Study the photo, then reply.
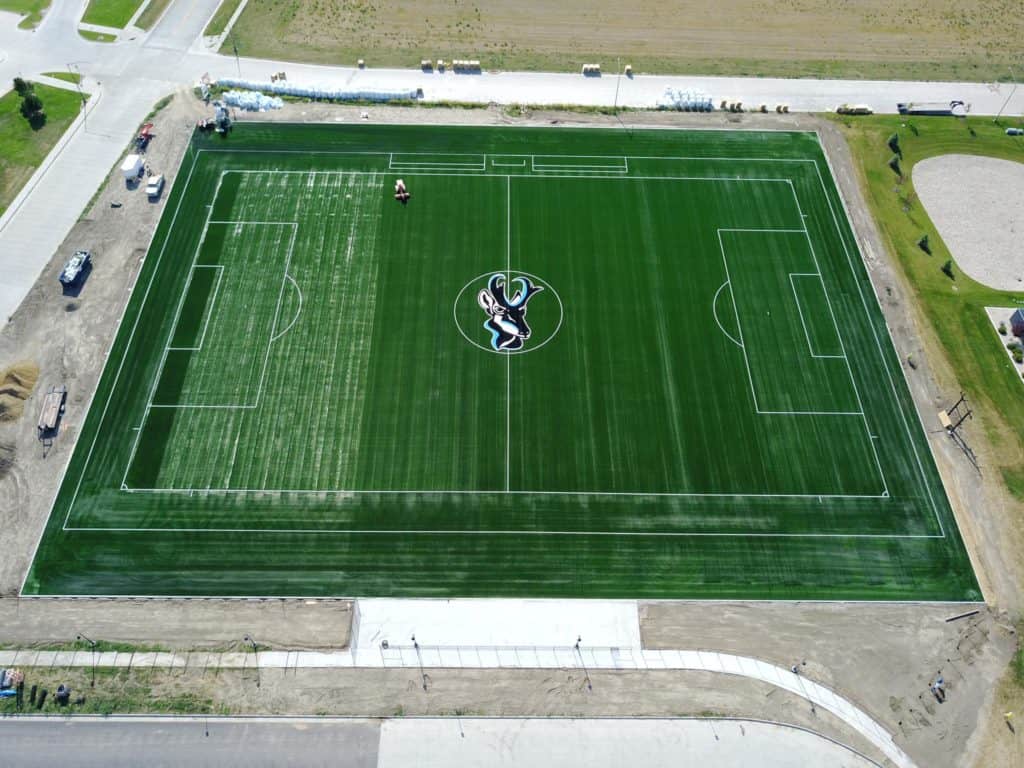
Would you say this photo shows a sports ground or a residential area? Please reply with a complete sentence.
It's a sports ground.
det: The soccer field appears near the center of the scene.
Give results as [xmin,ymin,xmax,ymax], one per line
[20,121,986,603]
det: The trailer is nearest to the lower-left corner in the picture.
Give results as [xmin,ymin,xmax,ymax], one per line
[38,387,66,449]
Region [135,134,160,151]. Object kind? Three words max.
work vehicle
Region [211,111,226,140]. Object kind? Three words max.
work vehicle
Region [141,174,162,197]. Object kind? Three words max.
vehicle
